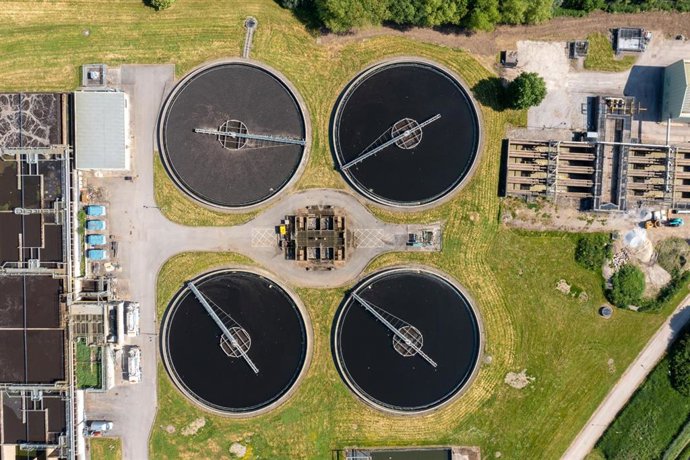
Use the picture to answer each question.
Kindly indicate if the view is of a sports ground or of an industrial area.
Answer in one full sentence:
What you see here is an industrial area.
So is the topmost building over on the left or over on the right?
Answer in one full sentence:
You can find the topmost building on the right side of the picture.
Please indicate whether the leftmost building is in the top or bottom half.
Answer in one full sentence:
The top half of the photo is where the leftmost building is.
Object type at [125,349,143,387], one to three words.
vehicle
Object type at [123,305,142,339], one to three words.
vehicle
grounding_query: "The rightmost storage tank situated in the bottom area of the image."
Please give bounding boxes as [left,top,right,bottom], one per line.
[330,263,484,417]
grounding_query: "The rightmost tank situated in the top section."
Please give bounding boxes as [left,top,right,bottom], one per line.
[330,57,483,211]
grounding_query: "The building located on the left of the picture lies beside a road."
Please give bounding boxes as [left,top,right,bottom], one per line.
[73,90,133,170]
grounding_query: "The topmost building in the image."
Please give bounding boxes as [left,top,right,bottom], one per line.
[615,28,643,55]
